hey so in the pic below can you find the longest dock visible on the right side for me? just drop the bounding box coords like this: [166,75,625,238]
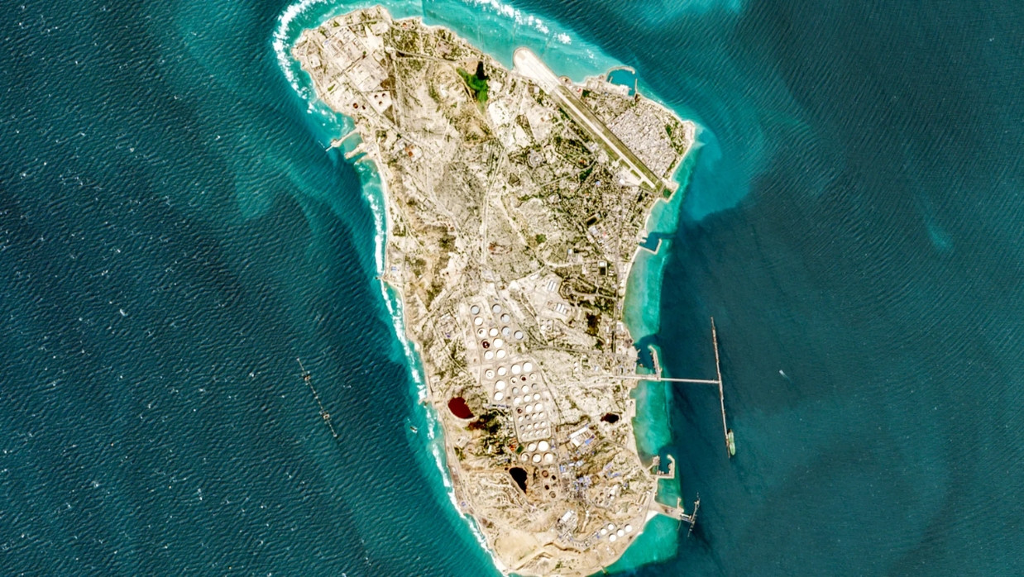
[653,317,730,458]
